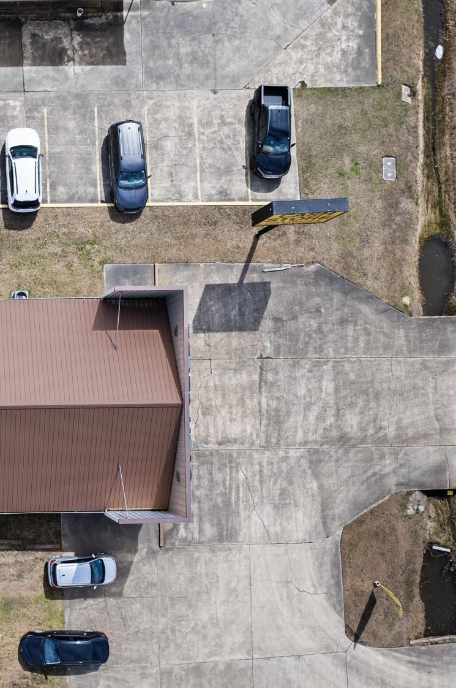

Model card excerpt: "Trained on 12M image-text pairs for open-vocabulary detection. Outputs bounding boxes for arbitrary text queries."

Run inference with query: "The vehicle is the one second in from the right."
[107,120,153,214]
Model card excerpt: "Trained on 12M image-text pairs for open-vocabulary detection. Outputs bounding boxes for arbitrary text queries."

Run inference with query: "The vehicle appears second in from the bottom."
[46,552,117,593]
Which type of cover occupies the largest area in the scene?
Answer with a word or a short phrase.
paved ground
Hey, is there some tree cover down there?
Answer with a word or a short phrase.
No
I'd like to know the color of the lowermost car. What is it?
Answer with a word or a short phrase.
black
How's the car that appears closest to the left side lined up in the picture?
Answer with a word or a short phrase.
up and down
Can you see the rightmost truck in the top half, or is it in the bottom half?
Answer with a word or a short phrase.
top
